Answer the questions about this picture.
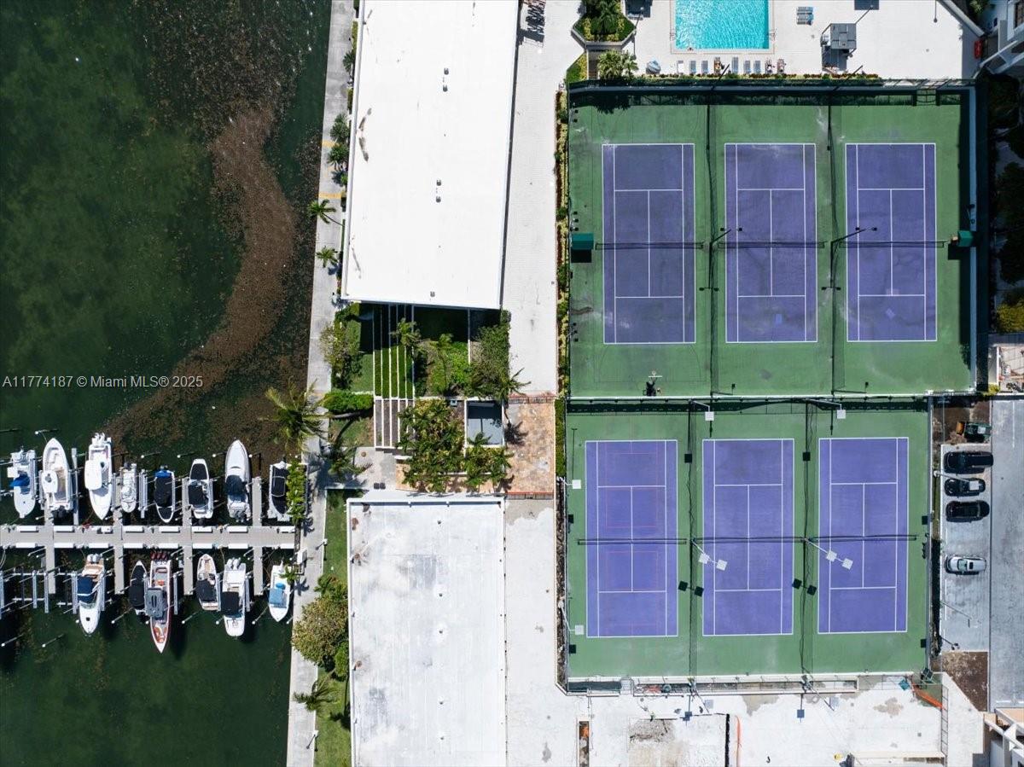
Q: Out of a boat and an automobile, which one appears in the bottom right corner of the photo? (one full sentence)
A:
Visible in the bottom right corner of the photo is an automobile.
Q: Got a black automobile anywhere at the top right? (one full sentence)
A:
No, I can find no black automobile at the top right.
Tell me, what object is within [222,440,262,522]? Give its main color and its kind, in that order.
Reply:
white boat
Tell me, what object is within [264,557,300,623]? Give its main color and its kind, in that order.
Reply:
white boat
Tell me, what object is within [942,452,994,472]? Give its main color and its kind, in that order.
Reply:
black car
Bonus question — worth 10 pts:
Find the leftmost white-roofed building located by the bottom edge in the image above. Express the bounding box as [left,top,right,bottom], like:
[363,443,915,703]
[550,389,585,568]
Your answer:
[348,489,507,767]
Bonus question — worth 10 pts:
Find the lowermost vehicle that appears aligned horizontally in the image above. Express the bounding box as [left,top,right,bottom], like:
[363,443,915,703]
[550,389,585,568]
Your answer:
[943,556,987,575]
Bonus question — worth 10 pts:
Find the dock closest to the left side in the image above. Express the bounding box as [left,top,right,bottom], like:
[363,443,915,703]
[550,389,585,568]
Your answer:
[0,448,297,595]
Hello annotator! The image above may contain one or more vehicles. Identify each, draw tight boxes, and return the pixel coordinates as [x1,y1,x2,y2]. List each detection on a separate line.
[952,425,991,440]
[943,556,987,575]
[942,452,994,472]
[944,501,990,521]
[942,477,986,496]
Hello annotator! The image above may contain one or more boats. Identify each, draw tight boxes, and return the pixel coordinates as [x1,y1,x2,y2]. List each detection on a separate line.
[114,462,149,512]
[145,553,186,654]
[219,561,258,638]
[261,462,293,516]
[4,449,42,518]
[193,553,226,612]
[39,438,85,520]
[85,439,128,520]
[264,557,300,623]
[182,459,225,524]
[75,556,119,635]
[222,440,262,522]
[149,464,187,522]
[128,561,151,620]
